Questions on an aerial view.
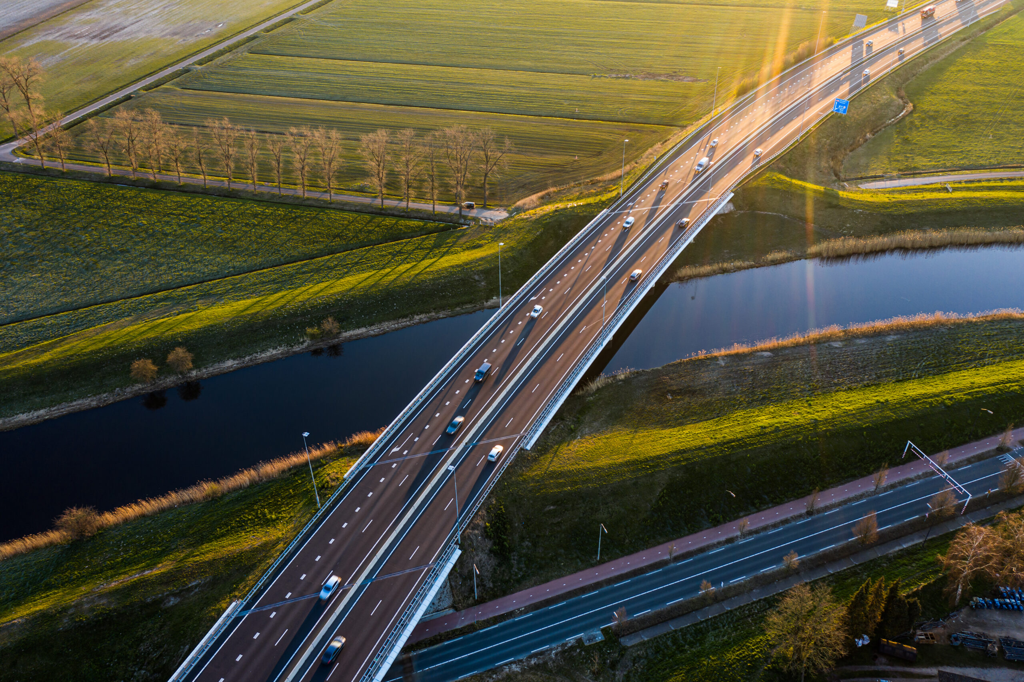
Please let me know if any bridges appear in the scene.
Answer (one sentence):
Yes, the picture does show a bridge.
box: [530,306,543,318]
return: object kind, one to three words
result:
vehicle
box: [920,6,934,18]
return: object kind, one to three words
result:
vehicle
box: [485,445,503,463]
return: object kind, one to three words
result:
car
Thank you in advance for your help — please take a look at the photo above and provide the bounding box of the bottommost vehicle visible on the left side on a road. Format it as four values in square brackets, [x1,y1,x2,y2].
[320,636,348,667]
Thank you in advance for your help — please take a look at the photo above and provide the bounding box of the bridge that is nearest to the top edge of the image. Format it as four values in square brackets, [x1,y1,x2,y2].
[350,195,730,470]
